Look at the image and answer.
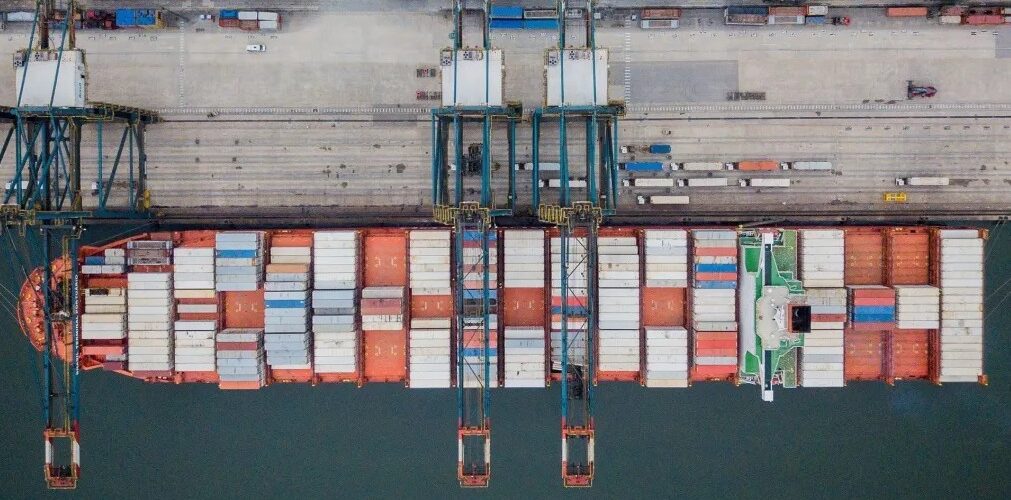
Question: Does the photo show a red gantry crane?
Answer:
No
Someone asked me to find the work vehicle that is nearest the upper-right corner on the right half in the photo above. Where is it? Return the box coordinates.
[909,78,942,98]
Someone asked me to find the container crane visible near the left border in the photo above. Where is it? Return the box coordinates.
[0,0,173,491]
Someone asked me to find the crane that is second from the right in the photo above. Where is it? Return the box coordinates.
[424,0,522,489]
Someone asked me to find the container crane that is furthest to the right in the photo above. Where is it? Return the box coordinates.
[528,0,627,488]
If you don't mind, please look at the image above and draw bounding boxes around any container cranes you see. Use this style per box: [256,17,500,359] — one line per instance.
[528,0,627,488]
[424,0,522,489]
[0,0,173,491]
